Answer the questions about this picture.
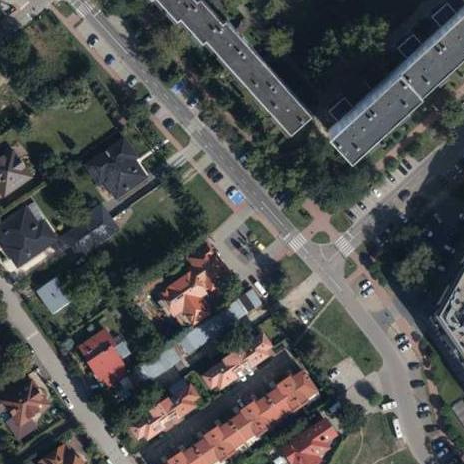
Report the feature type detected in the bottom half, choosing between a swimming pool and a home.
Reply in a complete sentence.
You can see a home in the bottom half.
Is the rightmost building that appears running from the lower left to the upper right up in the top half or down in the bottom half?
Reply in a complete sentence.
It is in the top half that the rightmost building that appears running from the lower left to the upper right appears.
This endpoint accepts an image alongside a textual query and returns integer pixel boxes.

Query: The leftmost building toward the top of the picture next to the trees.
[0,146,34,199]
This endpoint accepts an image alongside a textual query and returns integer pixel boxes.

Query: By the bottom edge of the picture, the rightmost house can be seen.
[277,418,338,464]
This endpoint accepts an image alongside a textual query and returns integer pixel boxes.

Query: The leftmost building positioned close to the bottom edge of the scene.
[0,373,51,442]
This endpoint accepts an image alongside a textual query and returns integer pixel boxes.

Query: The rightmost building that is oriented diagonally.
[321,11,464,167]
